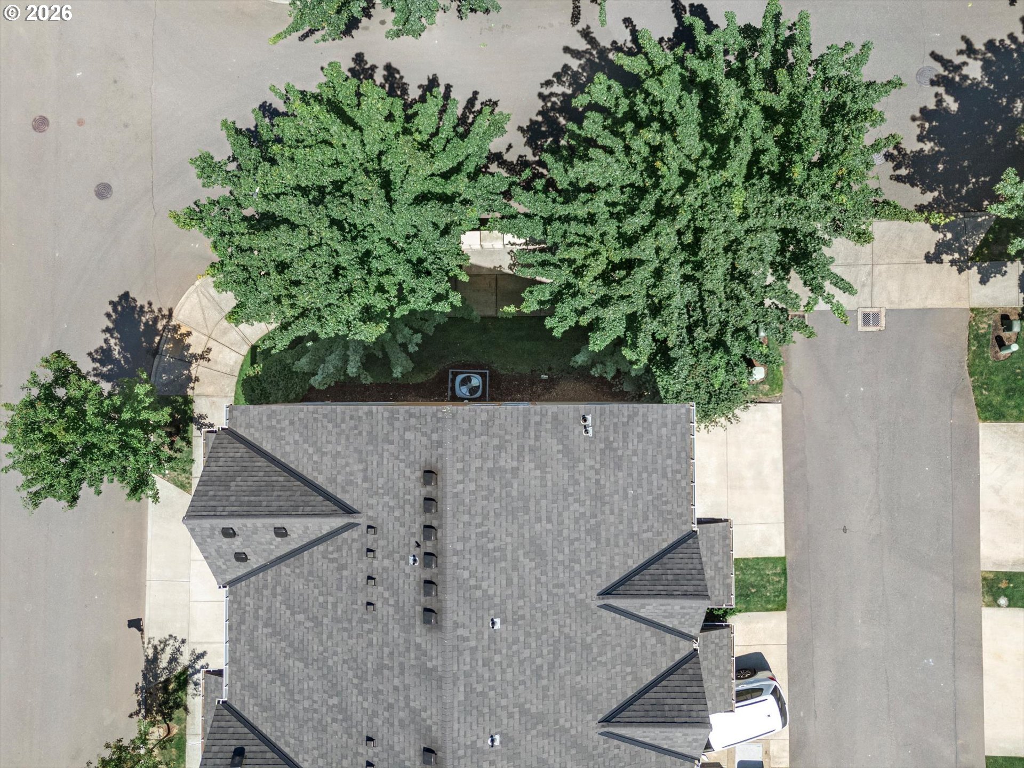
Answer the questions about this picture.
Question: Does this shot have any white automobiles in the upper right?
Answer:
No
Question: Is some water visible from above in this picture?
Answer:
No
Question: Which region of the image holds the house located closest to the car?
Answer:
bottom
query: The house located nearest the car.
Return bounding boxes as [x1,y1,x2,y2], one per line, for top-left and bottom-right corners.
[181,398,735,768]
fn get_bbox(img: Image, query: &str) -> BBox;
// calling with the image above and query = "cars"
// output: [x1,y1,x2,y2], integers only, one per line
[704,667,787,750]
